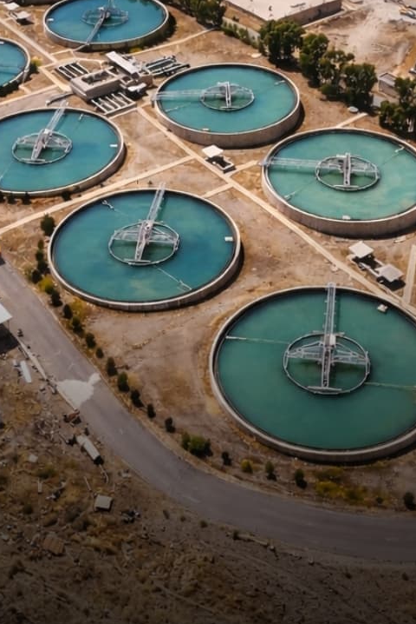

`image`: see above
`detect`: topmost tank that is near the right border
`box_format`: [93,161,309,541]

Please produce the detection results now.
[257,128,416,237]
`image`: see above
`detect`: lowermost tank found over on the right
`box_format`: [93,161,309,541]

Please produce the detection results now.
[211,277,416,467]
